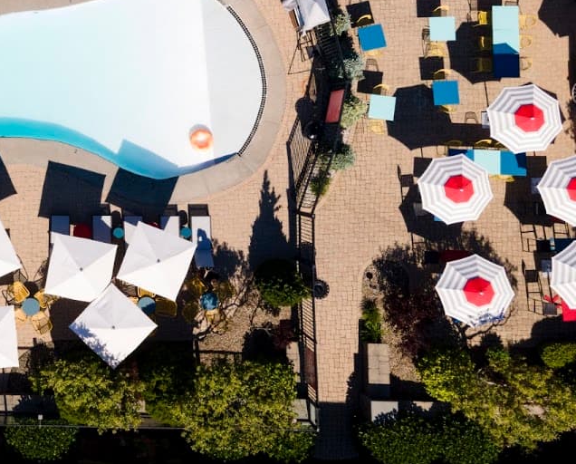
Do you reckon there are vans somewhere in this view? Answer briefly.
No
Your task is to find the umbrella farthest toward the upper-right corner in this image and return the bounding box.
[476,82,561,156]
